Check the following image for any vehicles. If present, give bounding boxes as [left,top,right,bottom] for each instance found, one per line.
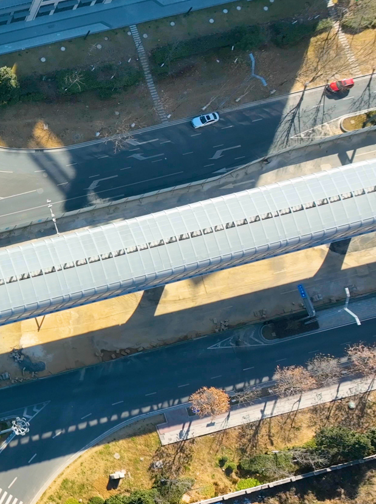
[191,113,219,129]
[327,80,353,96]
